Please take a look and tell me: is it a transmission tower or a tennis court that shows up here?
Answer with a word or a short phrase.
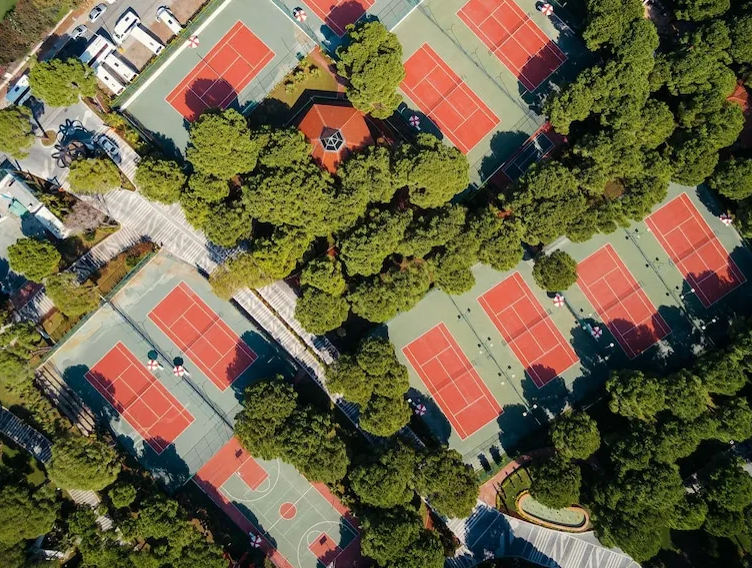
tennis court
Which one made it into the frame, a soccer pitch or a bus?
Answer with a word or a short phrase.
bus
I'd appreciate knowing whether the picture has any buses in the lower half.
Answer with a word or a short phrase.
No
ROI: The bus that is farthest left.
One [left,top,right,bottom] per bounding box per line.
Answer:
[3,73,40,106]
